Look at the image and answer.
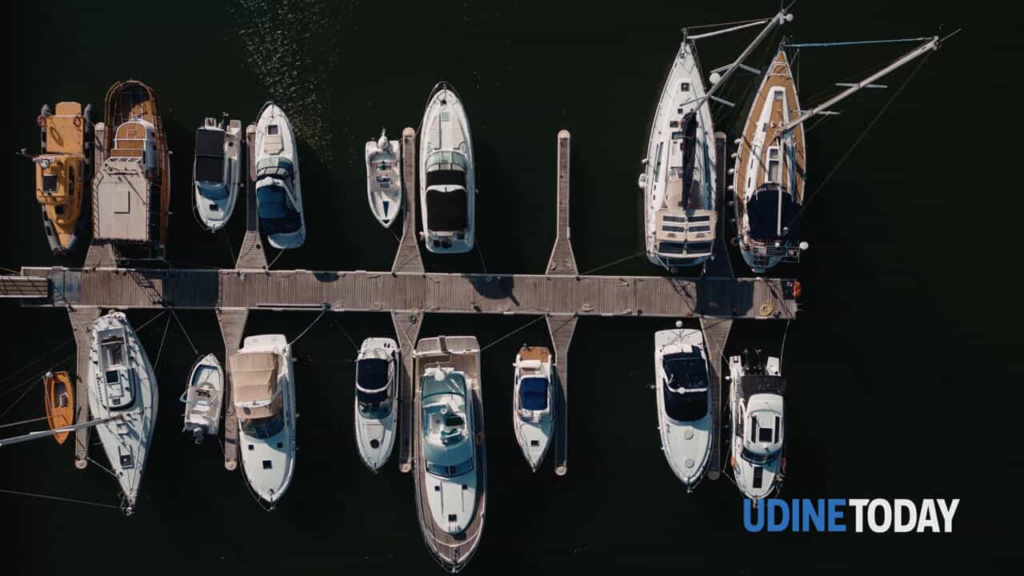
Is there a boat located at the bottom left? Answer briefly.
Yes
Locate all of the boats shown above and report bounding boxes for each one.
[255,96,308,249]
[190,105,242,236]
[181,354,225,440]
[412,335,487,571]
[94,80,174,251]
[730,35,955,272]
[13,101,91,258]
[231,334,296,513]
[643,10,797,273]
[654,327,712,491]
[514,344,555,475]
[366,122,401,226]
[45,370,77,444]
[0,308,159,519]
[726,346,786,507]
[356,336,400,475]
[419,83,475,254]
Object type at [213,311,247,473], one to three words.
pier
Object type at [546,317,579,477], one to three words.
pier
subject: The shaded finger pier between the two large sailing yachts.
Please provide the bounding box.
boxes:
[702,131,736,276]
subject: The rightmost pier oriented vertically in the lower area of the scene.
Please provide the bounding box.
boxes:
[701,320,736,481]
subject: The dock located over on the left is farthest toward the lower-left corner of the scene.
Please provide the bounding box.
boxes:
[63,308,100,471]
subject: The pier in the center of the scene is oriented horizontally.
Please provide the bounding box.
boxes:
[19,266,796,322]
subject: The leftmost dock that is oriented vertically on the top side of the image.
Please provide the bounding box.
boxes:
[78,120,116,268]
